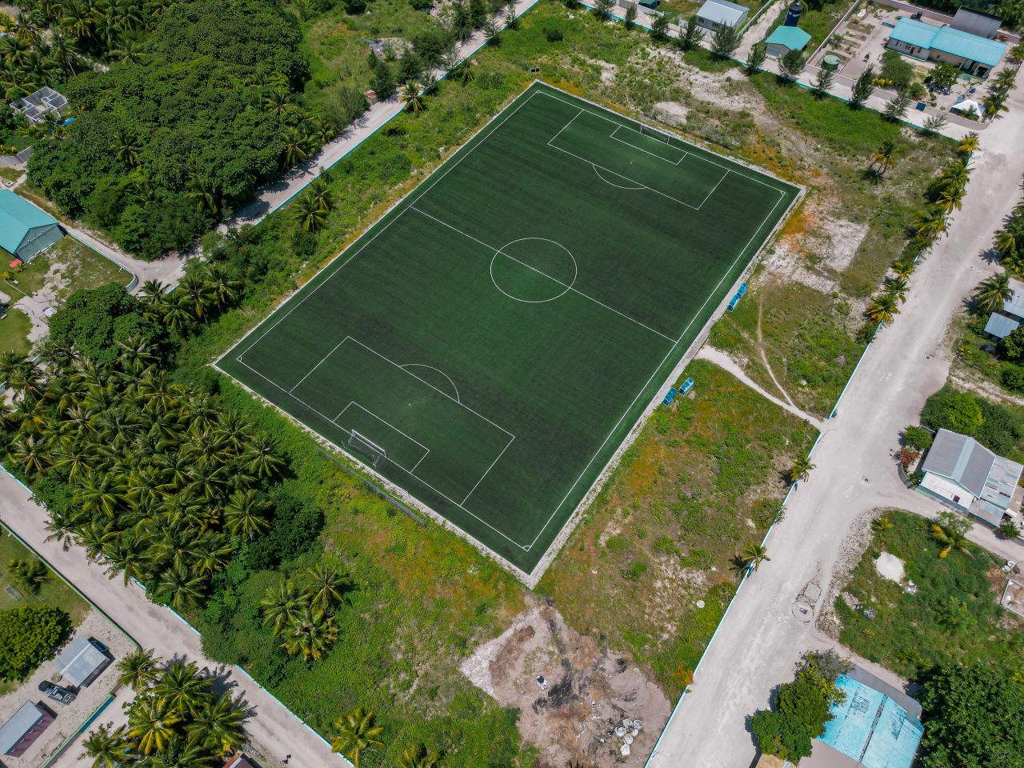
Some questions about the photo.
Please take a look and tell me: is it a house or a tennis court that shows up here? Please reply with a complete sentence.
This aerial view contains a house.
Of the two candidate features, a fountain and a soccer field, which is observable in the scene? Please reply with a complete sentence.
The one in the frame is a soccer field.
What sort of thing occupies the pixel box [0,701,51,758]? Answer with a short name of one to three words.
shed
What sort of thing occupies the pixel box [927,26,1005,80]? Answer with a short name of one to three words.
house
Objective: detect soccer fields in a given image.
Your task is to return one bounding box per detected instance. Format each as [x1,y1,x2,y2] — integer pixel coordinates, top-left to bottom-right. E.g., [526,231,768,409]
[211,81,805,591]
